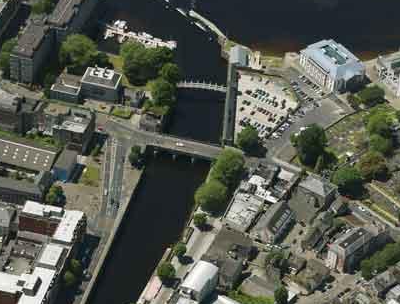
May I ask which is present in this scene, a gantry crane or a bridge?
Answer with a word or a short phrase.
bridge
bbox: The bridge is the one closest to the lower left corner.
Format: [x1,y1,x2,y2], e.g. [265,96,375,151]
[141,137,219,172]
